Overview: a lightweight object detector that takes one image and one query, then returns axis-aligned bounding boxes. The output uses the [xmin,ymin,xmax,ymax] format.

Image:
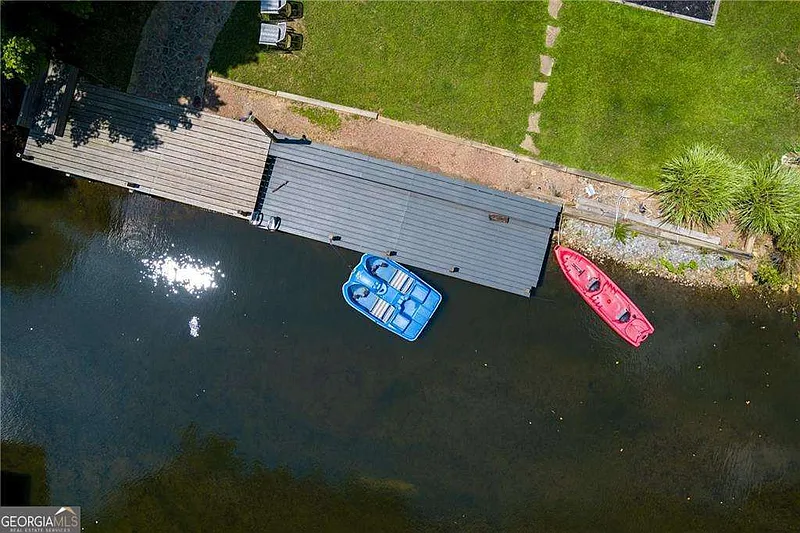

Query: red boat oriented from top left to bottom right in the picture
[555,246,653,345]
